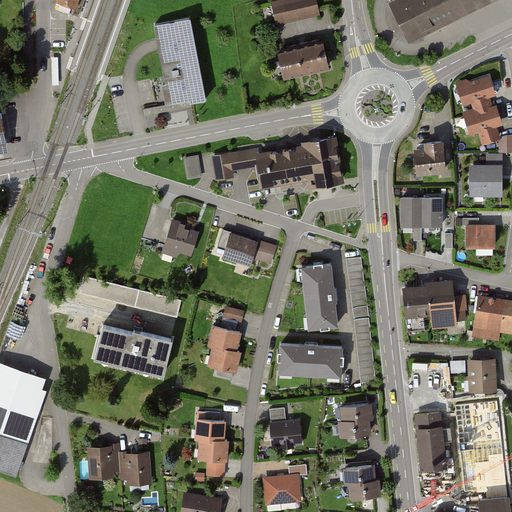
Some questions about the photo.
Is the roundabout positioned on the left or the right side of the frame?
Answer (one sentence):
It is on the right.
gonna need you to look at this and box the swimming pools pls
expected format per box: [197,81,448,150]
[79,460,88,480]
[142,491,159,506]
[456,249,466,260]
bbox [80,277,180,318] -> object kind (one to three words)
building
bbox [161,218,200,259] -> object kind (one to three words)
house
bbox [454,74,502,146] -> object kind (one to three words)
house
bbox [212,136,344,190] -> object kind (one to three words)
building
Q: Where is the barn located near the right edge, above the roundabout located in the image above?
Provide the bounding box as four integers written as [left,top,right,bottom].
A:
[389,0,498,44]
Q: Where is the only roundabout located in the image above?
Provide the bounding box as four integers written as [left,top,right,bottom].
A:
[338,68,416,144]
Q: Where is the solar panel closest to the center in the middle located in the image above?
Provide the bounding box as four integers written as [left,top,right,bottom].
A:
[222,250,254,267]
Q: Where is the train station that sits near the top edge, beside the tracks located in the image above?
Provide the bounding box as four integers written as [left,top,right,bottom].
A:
[66,0,132,81]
